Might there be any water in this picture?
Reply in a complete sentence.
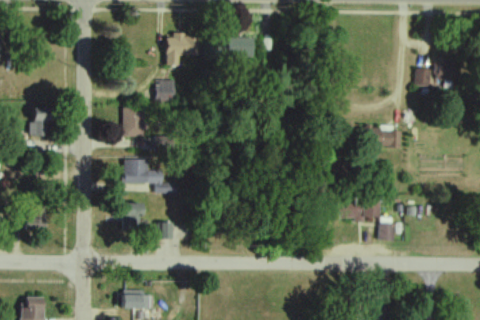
No, no water is visible.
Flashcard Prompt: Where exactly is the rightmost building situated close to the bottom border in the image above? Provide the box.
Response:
[122,290,154,310]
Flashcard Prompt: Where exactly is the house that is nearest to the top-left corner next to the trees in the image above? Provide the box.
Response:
[29,109,46,136]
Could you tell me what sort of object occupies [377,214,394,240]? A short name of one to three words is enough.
house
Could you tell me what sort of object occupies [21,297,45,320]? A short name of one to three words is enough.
house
